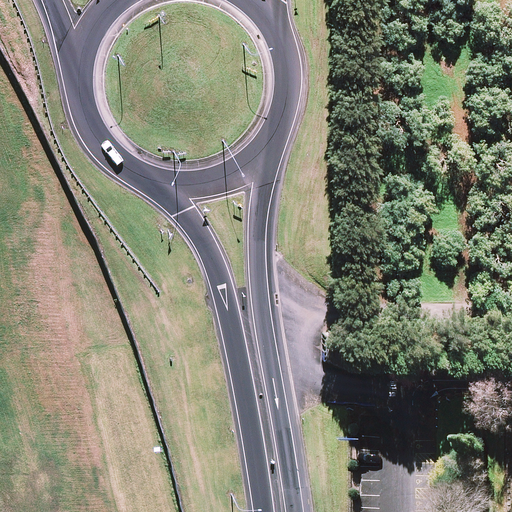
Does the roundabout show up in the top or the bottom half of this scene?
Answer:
top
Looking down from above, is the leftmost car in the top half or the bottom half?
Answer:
top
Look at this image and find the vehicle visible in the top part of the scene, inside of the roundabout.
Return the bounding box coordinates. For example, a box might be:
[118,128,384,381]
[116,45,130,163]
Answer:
[101,140,124,166]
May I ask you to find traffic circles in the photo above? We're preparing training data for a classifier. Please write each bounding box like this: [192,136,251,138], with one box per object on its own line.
[66,0,301,196]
